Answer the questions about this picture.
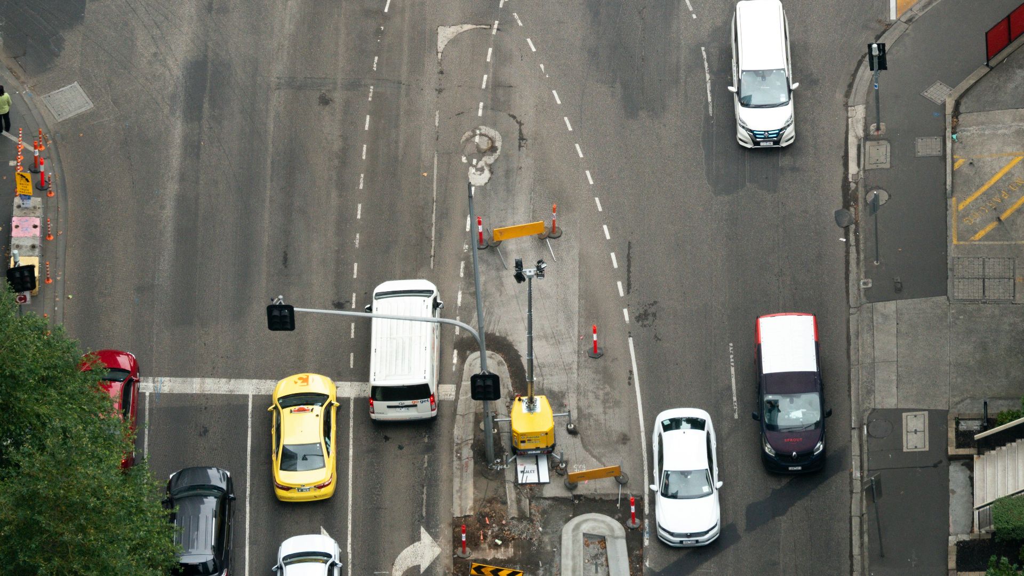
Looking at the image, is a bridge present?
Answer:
No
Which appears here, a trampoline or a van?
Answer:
van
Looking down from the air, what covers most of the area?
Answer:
paved ground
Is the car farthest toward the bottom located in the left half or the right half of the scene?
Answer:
left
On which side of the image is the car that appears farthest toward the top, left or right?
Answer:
right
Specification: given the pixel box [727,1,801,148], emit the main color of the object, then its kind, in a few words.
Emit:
white car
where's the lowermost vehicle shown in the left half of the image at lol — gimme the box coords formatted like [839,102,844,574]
[266,535,346,576]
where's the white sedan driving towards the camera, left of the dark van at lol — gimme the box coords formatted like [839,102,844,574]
[645,408,727,547]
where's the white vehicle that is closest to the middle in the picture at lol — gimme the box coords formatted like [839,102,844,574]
[362,279,451,420]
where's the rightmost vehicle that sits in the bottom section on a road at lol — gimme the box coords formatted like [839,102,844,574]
[747,310,838,473]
